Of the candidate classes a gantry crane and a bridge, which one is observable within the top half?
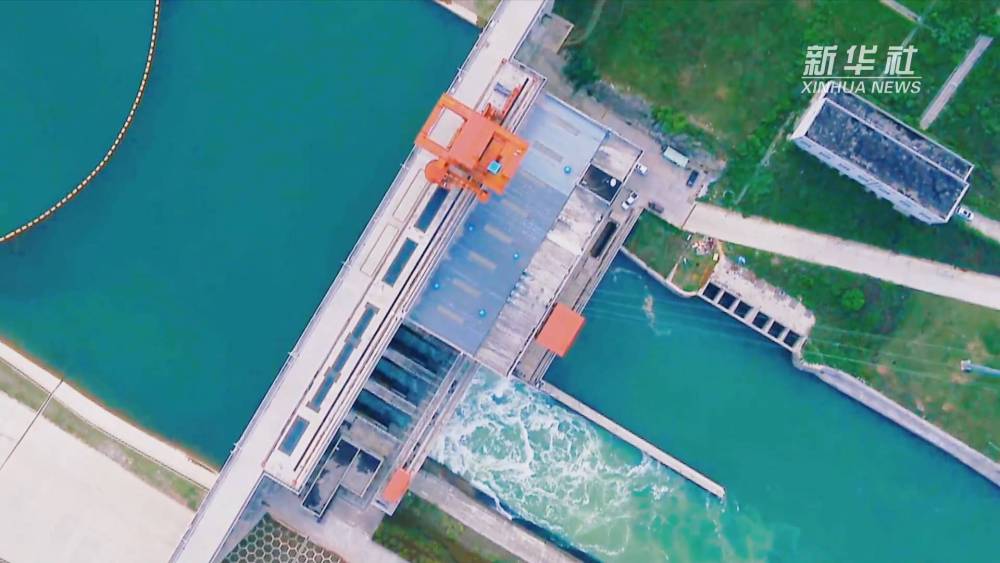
gantry crane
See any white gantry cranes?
No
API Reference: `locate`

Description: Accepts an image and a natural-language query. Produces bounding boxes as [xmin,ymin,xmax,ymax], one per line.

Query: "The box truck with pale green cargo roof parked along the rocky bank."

[661,146,692,168]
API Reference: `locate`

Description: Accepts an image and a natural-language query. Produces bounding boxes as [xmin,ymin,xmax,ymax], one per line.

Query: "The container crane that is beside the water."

[415,94,529,210]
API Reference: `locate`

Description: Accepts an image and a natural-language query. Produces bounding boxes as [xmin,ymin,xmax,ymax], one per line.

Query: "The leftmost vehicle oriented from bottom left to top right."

[621,192,638,209]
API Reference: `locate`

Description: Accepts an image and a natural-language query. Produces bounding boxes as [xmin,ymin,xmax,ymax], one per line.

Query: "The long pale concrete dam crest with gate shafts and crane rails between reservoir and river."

[167,0,555,563]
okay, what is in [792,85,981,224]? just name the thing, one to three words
building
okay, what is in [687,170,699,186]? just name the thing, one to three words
vehicle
